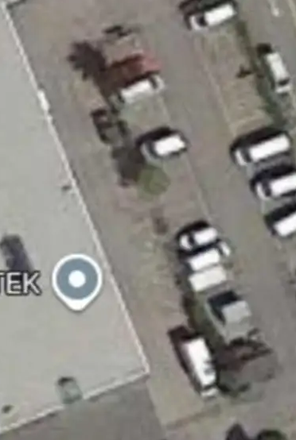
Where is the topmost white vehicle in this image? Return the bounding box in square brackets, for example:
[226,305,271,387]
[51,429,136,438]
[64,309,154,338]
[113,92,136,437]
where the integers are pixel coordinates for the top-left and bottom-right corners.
[188,0,240,30]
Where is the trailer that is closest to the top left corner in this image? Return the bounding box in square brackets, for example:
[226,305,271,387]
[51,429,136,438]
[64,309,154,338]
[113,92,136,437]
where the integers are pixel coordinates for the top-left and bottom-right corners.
[103,36,143,64]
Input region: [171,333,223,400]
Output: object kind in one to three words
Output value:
truck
